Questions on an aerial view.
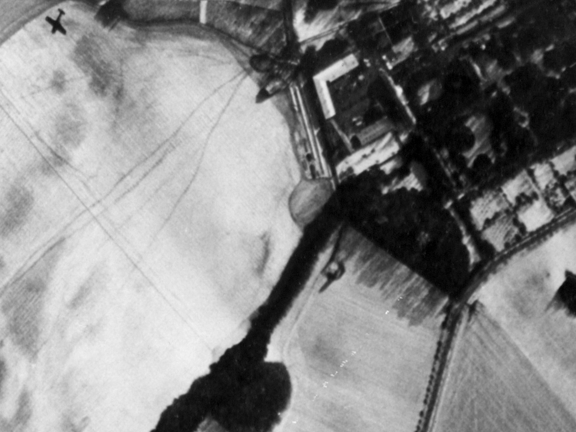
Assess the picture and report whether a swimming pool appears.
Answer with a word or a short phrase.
No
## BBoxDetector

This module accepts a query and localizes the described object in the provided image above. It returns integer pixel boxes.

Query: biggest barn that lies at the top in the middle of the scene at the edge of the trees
[313,52,360,118]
